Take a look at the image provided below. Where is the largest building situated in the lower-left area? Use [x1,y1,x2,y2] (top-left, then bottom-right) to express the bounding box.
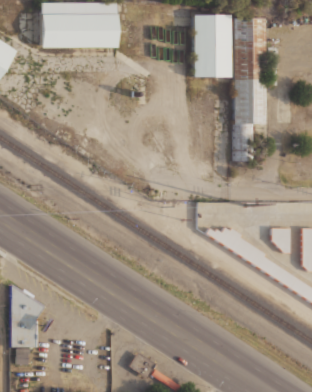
[9,285,46,348]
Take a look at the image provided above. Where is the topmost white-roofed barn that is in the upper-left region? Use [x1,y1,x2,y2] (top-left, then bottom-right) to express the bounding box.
[40,2,122,48]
